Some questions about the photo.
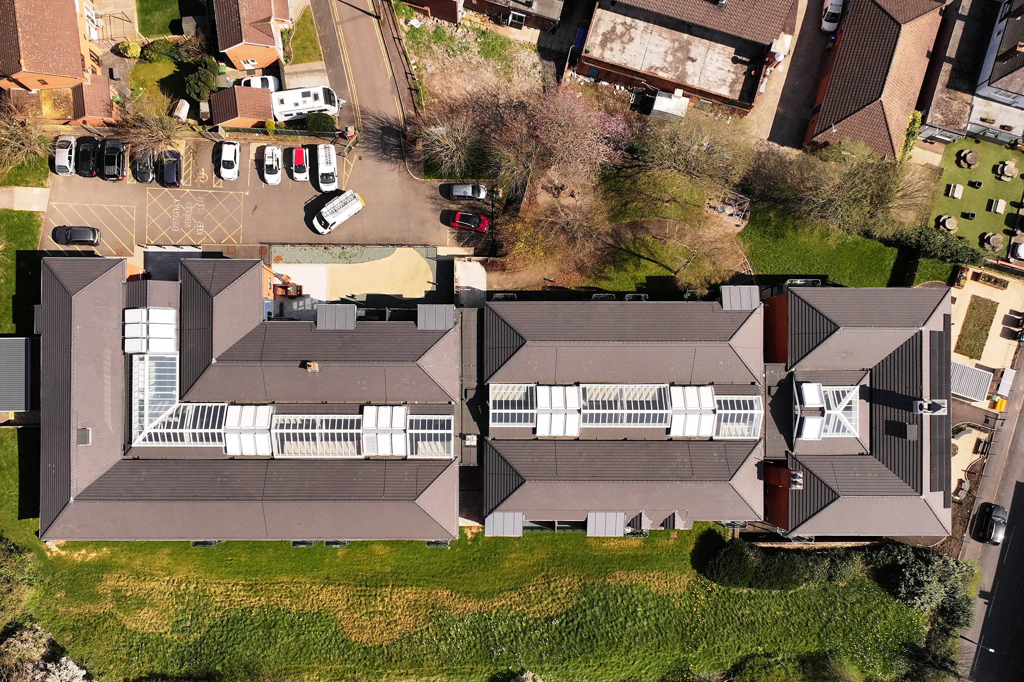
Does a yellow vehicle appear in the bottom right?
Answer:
No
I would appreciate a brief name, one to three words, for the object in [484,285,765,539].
building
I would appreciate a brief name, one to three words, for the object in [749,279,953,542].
building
